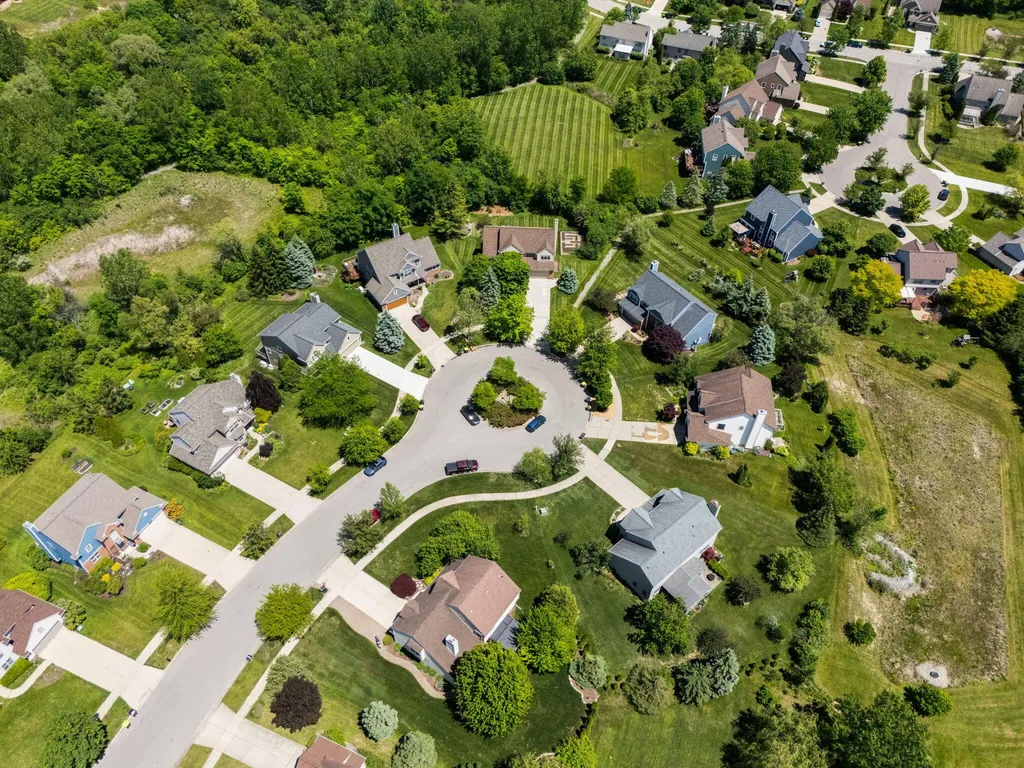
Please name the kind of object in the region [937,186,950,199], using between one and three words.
vehicle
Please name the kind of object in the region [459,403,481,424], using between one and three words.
car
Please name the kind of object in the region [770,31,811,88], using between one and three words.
house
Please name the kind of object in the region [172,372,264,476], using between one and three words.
house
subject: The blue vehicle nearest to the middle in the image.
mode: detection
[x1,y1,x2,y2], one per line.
[524,414,547,433]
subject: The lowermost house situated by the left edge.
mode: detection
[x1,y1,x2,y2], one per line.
[0,588,65,676]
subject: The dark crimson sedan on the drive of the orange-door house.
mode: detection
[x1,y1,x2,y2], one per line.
[411,313,431,331]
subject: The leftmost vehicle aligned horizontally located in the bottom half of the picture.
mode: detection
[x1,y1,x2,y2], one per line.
[444,457,480,474]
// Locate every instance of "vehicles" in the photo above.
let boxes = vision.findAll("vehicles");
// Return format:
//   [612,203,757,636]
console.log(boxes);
[444,457,480,474]
[362,454,389,477]
[411,313,431,331]
[937,186,950,199]
[888,224,908,238]
[362,503,381,525]
[524,414,547,433]
[847,40,862,49]
[819,40,835,48]
[459,403,481,424]
[815,17,822,25]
